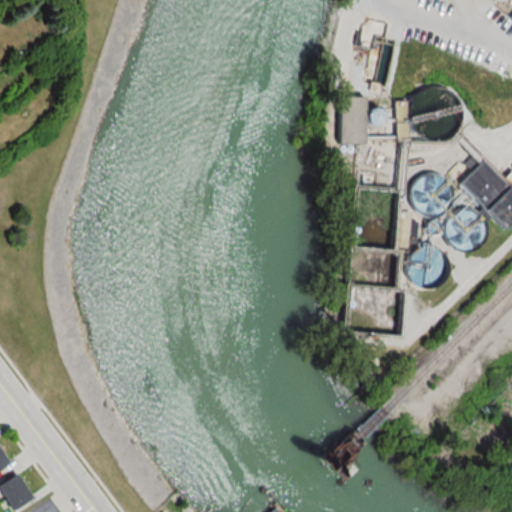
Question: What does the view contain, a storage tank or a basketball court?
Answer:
storage tank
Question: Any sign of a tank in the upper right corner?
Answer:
Yes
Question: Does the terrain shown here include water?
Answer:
Yes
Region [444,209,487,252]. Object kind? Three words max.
storage tank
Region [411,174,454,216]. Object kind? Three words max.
storage tank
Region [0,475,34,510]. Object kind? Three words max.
house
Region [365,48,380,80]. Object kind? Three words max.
building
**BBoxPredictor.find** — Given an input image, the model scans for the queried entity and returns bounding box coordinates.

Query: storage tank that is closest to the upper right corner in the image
[408,84,464,141]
